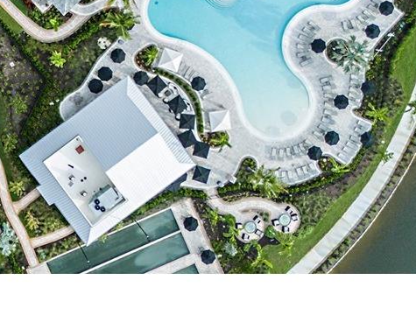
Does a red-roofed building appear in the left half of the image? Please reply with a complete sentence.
No, no red-roofed building is visible in the left half of the image.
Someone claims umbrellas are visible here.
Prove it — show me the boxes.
[361,23,380,39]
[178,113,195,130]
[359,80,376,96]
[190,139,212,160]
[190,164,211,184]
[176,129,197,149]
[331,93,348,109]
[96,66,112,81]
[306,145,322,160]
[322,131,339,146]
[199,248,216,264]
[133,70,149,86]
[190,76,205,91]
[146,75,168,97]
[166,93,188,116]
[110,48,127,64]
[88,78,102,93]
[355,130,373,146]
[377,0,394,15]
[182,215,197,231]
[309,38,325,54]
